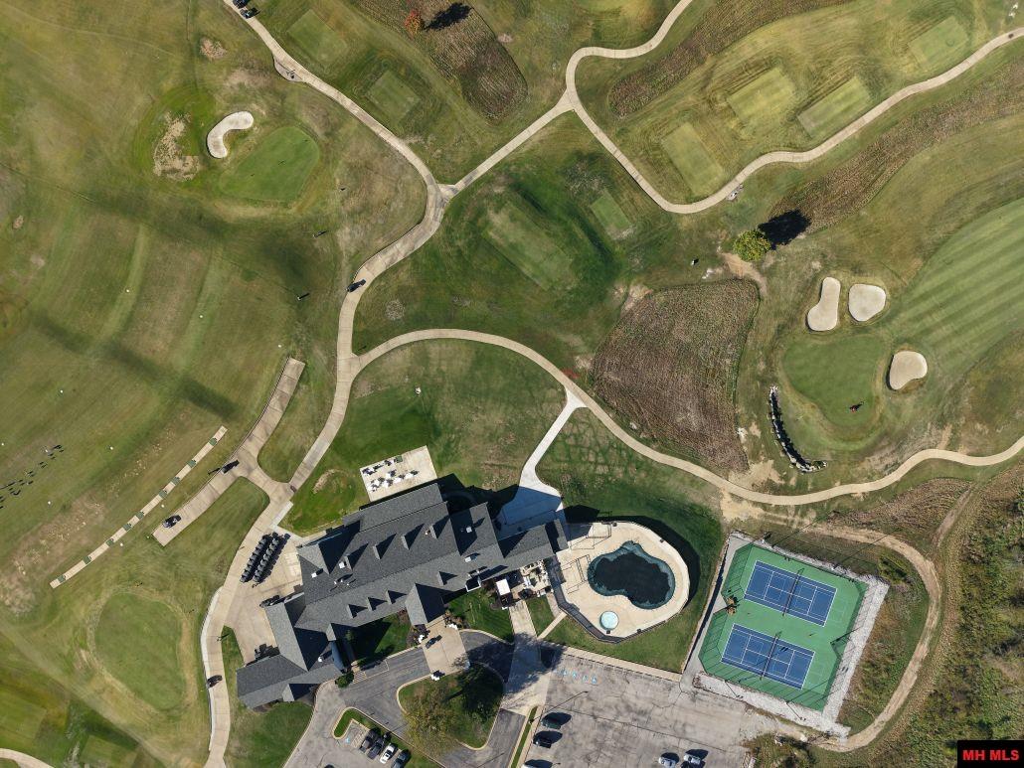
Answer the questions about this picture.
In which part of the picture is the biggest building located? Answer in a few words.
bottom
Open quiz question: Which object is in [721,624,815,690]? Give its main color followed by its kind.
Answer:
blue tennis court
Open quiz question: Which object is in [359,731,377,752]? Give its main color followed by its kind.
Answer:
gray vehicle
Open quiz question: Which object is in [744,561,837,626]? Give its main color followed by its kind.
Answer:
blue tennis court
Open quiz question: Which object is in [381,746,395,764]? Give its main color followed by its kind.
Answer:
white car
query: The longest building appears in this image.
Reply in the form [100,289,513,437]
[238,483,568,709]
